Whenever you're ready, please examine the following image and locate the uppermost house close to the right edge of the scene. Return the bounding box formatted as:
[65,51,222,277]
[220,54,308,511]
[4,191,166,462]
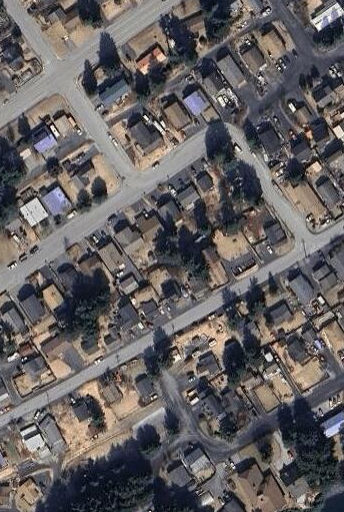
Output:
[308,0,344,33]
